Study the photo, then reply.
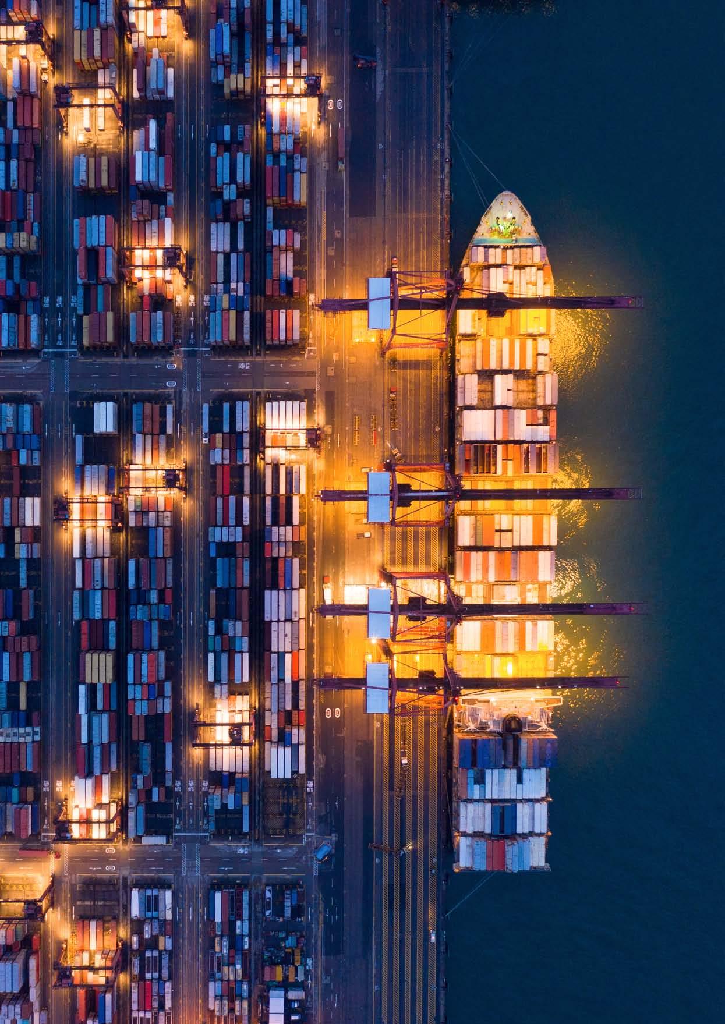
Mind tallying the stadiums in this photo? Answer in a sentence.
There are no stadiums in the image.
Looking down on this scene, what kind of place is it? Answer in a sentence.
The picture captures a port.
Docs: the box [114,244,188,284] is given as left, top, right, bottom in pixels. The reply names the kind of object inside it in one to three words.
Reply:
container crane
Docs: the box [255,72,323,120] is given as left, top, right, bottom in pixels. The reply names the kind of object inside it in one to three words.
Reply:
container crane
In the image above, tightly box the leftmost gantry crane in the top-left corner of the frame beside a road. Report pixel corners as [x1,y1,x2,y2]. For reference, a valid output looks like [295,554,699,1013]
[0,19,52,70]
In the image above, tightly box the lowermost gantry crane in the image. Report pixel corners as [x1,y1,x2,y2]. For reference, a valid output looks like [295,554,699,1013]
[49,938,125,991]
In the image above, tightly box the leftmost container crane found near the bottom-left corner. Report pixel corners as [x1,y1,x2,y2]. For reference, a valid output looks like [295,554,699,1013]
[0,874,52,923]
